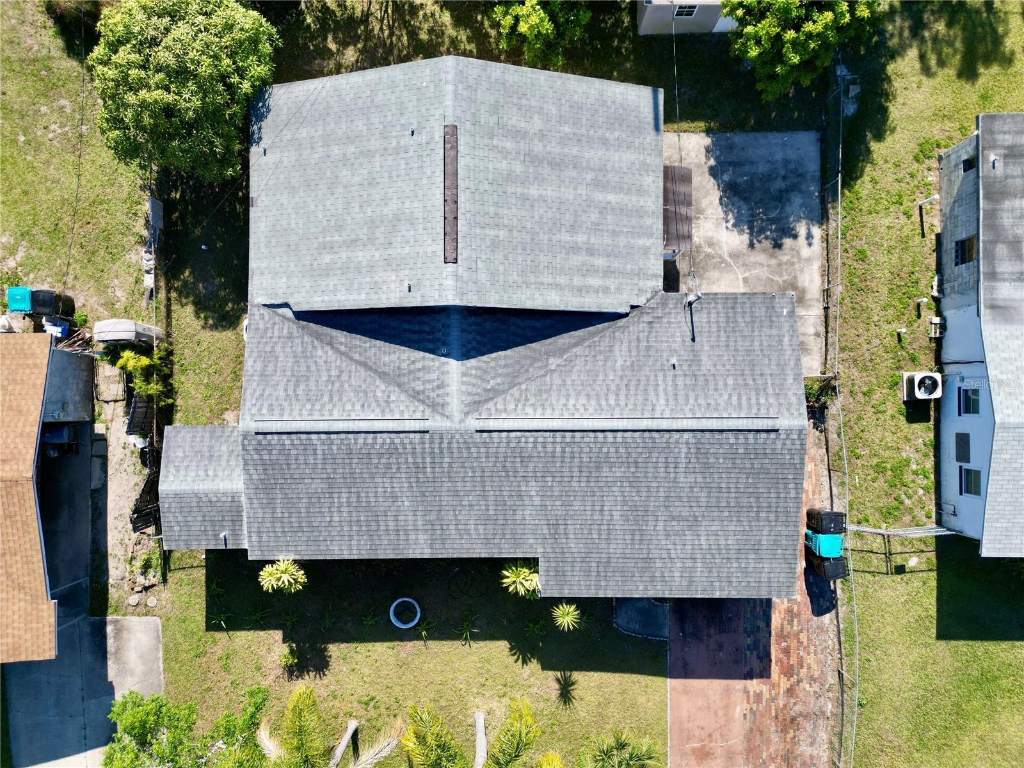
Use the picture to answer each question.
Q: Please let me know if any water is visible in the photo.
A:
No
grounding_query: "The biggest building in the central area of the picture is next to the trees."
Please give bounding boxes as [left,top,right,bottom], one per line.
[159,55,807,597]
